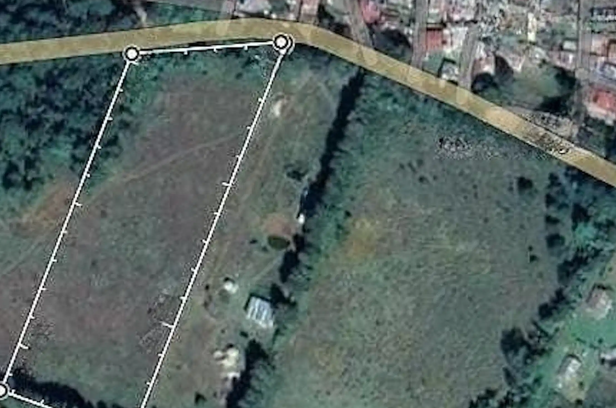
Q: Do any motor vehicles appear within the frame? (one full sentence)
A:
No, there appears to be no motor vehicle in this shot.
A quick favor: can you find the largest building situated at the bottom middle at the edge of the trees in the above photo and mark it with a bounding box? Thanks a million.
[247,297,275,327]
